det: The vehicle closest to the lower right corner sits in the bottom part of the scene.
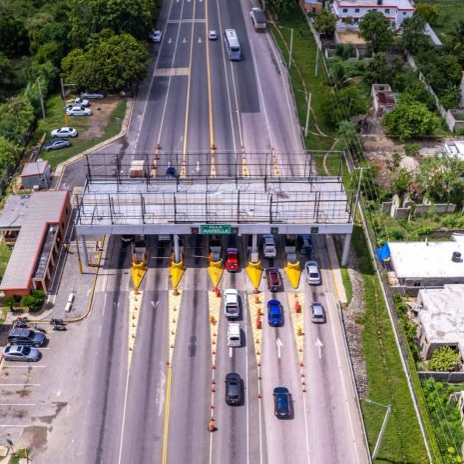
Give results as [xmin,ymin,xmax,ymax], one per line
[271,383,291,416]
